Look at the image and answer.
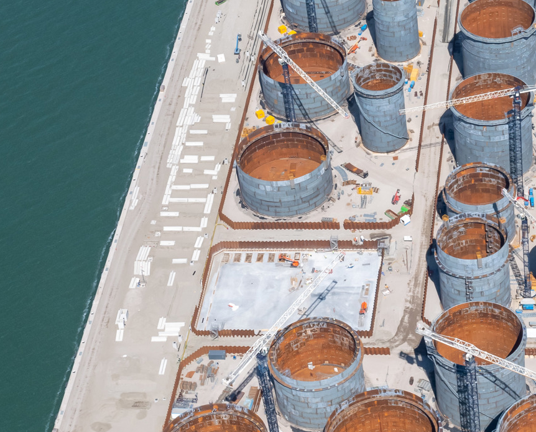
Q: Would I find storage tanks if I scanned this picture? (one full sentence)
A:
Yes, I can see a storage tank in this picture.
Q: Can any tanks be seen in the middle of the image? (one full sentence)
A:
Yes, a tank can be seen in the middle of the image.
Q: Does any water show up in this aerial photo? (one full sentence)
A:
Yes, the picture does contain water.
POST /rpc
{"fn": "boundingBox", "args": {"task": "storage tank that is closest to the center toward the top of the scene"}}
[237,122,336,218]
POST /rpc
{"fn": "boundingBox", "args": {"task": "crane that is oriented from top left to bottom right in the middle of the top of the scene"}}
[254,30,348,123]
